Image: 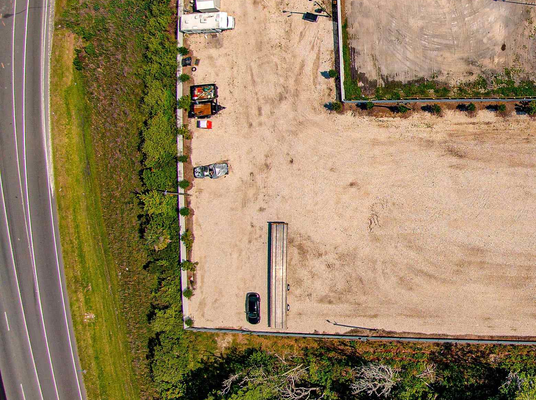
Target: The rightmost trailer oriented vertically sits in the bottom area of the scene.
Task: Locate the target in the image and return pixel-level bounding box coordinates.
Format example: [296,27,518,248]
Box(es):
[271,223,291,330]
